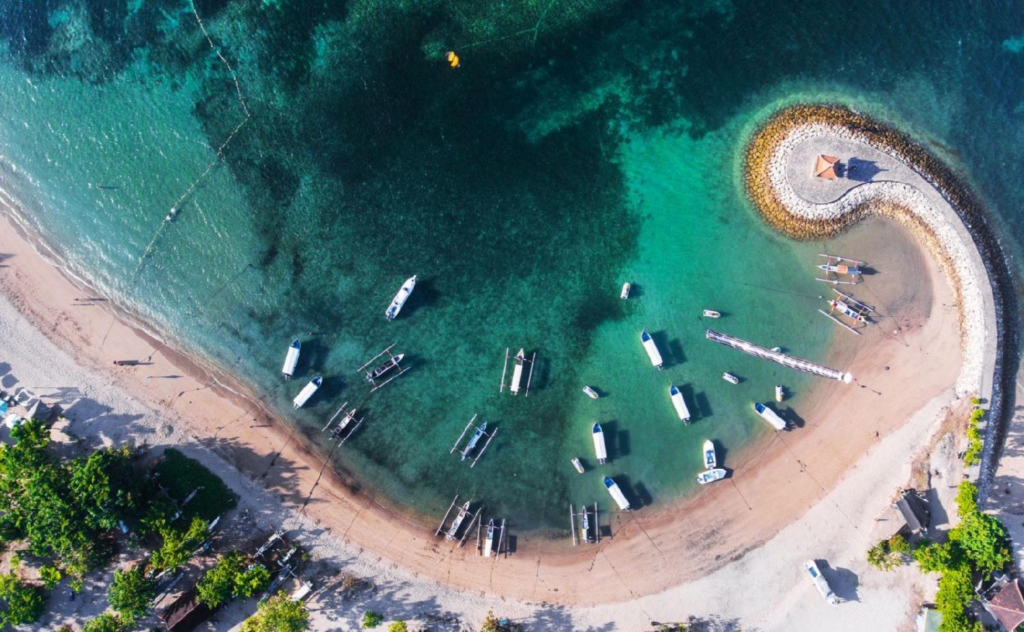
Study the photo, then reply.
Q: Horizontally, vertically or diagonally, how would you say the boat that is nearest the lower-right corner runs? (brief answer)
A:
diagonally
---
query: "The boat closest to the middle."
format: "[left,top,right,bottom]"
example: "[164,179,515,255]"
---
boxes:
[501,349,536,396]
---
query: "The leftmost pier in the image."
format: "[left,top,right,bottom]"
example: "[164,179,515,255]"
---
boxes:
[707,330,844,381]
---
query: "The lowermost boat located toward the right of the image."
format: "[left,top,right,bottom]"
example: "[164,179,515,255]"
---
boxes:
[807,565,841,609]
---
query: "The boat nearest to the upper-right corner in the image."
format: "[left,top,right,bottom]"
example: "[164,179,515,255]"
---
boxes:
[818,254,864,284]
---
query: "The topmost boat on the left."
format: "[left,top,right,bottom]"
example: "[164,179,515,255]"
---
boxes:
[385,274,416,321]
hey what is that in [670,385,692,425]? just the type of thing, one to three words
boat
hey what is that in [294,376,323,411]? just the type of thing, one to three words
boat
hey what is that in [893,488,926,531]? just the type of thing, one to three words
shed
